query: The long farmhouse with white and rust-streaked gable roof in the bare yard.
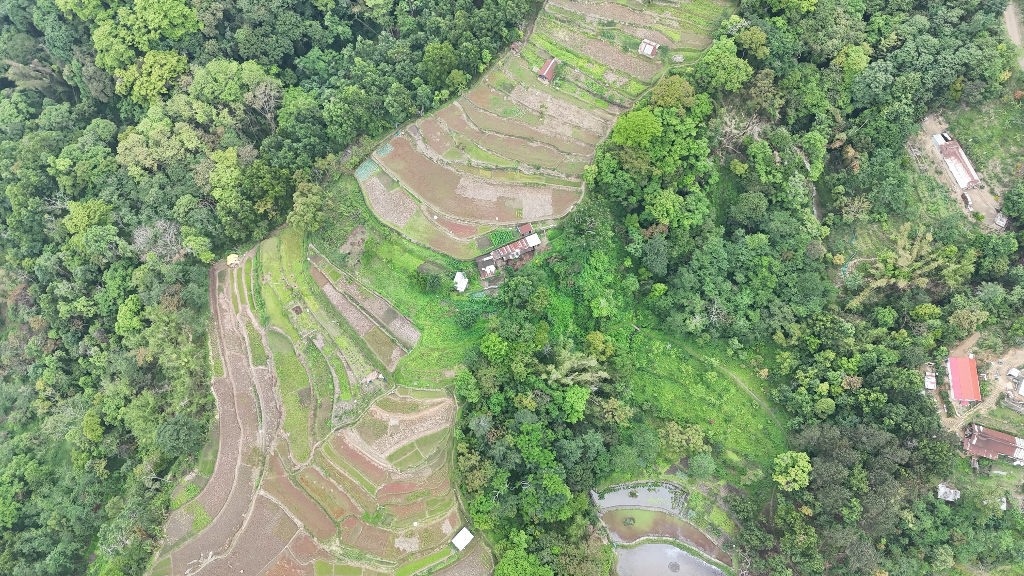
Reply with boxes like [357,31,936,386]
[929,132,980,191]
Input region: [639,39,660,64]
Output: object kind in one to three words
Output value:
shed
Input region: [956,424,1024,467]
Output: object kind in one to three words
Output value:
shed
